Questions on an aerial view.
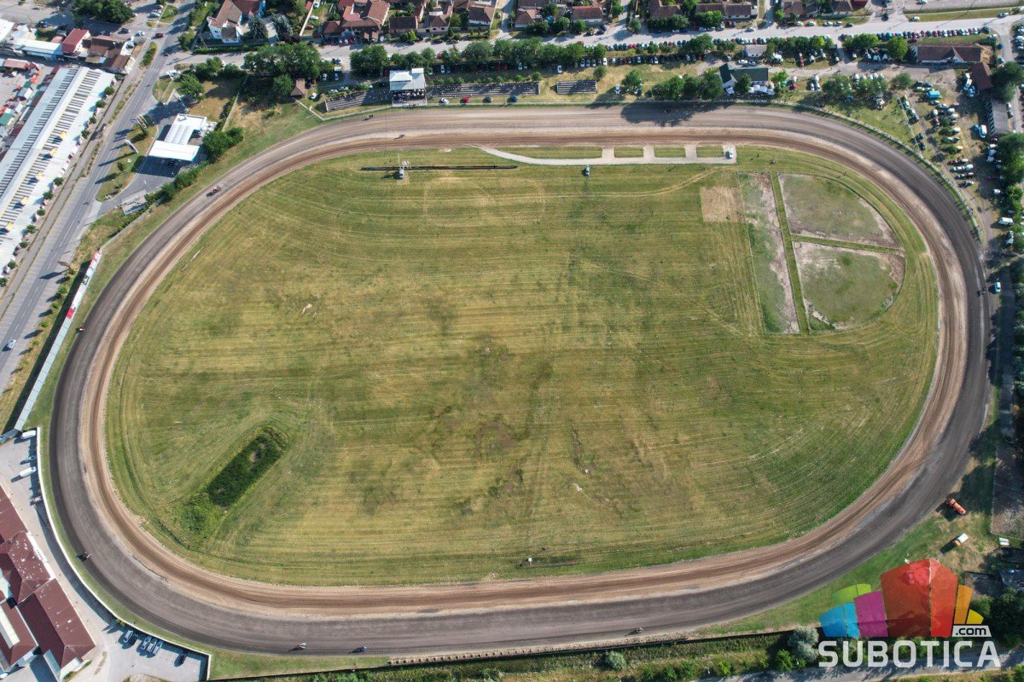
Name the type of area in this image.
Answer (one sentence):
The picture captures a sports ground.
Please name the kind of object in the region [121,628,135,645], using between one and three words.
car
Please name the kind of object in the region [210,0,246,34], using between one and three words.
house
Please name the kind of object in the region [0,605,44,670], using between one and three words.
building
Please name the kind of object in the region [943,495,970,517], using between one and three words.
truck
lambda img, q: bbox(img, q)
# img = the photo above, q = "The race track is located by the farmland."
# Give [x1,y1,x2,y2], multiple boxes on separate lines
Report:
[49,105,990,658]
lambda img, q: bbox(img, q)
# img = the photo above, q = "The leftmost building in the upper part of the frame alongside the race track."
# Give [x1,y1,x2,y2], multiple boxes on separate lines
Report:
[0,67,118,292]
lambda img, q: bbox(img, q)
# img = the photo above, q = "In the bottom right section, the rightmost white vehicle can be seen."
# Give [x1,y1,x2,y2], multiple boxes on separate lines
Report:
[951,532,971,548]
